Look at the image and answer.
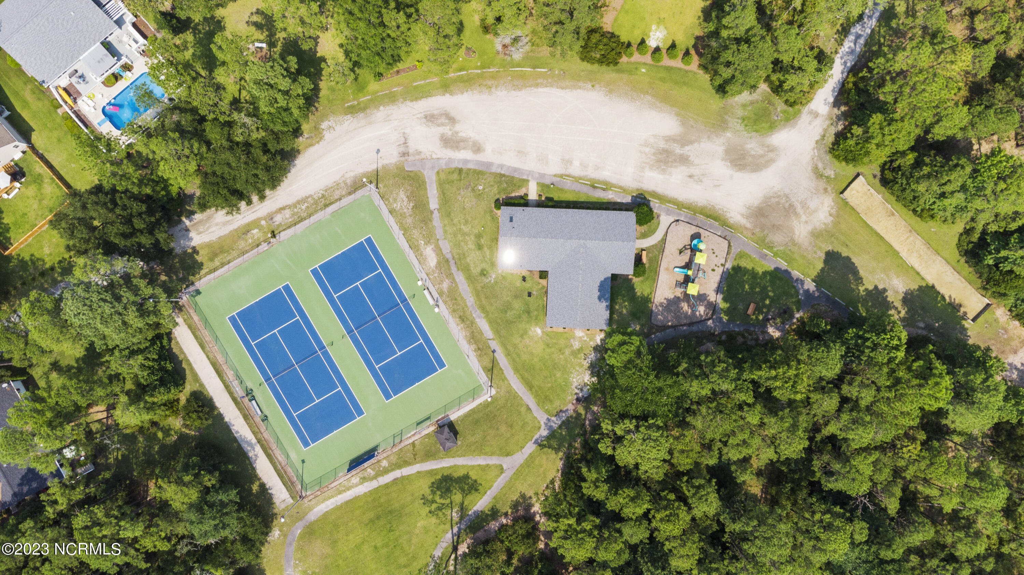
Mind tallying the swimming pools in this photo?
1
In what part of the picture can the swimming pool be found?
top left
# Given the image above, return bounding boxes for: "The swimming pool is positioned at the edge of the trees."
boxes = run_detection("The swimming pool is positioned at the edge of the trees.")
[98,70,166,131]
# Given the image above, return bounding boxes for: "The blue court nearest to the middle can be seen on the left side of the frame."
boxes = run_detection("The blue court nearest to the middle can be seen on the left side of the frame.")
[309,235,447,403]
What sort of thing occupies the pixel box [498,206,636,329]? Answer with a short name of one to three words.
building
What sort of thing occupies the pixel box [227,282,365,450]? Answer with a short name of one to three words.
tennis court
